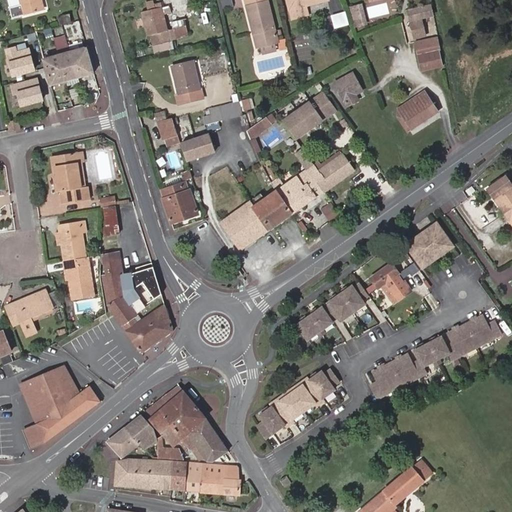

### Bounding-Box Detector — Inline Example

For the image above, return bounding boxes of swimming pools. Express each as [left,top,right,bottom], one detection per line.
[95,152,112,181]
[256,55,285,73]
[166,150,182,170]
[74,298,102,314]
[260,130,283,148]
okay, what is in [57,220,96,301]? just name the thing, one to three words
house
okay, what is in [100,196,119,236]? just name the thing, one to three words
barn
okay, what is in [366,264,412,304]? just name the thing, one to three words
house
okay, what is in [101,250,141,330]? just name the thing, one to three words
building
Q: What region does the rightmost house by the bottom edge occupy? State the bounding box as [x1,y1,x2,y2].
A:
[350,458,433,512]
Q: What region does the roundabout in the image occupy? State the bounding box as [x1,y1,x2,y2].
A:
[178,291,254,368]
